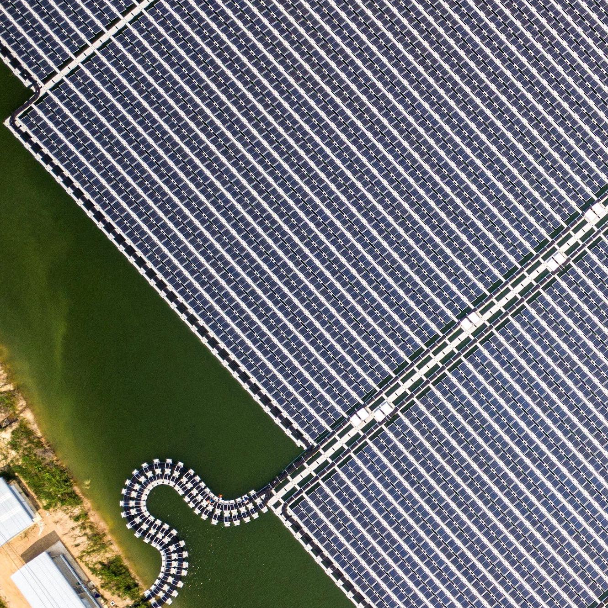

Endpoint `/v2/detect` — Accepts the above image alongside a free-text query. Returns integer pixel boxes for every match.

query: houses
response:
[0,473,54,546]
[10,546,103,608]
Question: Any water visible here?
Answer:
Yes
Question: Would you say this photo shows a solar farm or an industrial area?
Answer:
solar farm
